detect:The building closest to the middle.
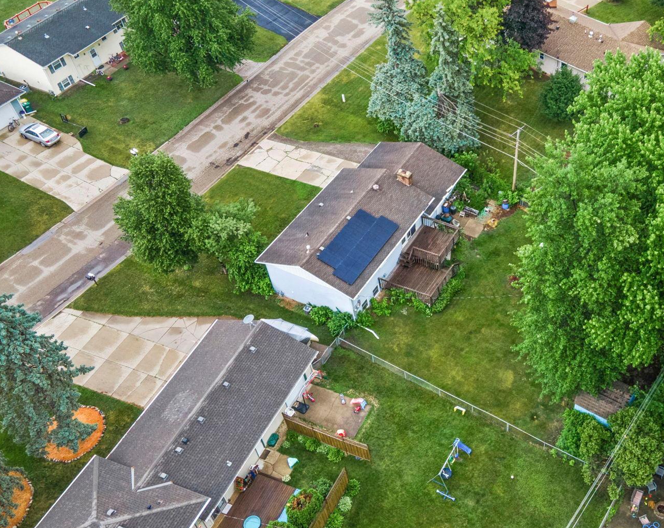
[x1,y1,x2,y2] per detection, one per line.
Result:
[253,142,469,319]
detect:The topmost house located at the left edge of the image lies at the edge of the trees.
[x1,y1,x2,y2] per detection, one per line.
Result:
[0,0,121,94]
